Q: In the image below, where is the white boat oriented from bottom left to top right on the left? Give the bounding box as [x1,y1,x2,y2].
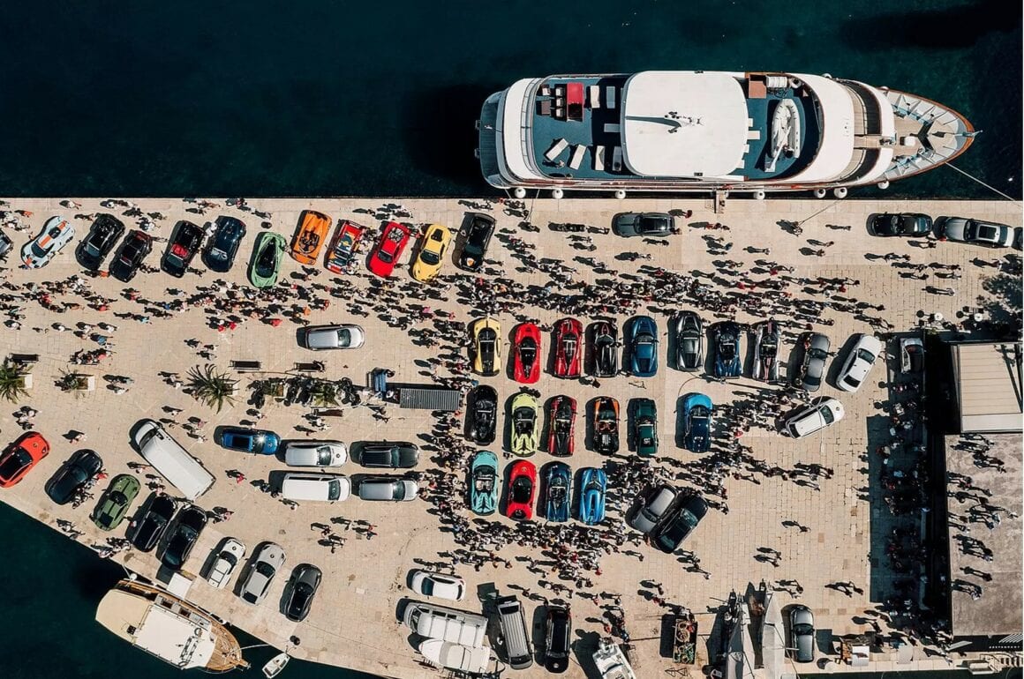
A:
[258,655,288,679]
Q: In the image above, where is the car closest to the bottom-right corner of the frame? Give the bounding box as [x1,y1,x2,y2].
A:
[788,604,818,664]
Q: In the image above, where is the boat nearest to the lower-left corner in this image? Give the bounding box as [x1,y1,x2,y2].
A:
[95,576,249,672]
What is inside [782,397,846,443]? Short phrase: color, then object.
white car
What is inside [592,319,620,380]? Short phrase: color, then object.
black car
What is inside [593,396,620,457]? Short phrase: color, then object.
black car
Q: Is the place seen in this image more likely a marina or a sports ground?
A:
marina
